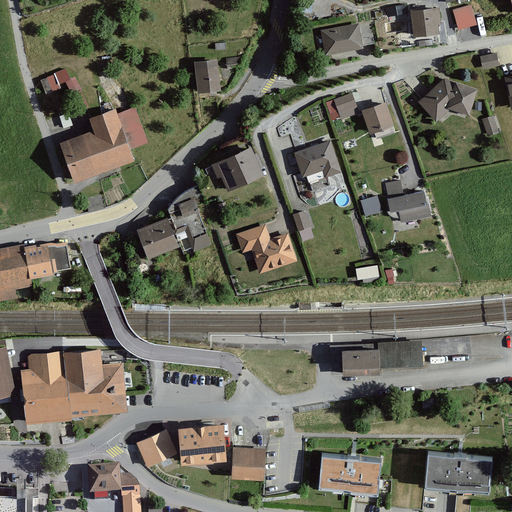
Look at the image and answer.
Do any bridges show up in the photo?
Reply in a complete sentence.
Yes, this view includes a bridge.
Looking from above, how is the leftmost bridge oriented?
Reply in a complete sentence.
The leftmost bridge runs on a diagonal in the image.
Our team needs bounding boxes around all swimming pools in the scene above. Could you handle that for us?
[334,192,350,207]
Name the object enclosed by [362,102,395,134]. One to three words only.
house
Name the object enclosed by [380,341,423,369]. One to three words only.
shed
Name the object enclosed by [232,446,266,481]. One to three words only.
barn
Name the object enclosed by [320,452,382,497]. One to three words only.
building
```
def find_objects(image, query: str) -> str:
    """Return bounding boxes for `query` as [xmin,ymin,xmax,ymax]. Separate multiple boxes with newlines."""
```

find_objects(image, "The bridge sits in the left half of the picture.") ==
[80,243,244,378]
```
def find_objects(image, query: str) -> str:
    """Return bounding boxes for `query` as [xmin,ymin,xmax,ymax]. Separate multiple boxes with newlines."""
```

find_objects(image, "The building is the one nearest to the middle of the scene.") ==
[236,224,298,273]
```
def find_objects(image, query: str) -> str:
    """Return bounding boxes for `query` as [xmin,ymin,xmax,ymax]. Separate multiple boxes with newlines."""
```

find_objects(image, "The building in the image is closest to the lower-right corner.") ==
[424,449,494,496]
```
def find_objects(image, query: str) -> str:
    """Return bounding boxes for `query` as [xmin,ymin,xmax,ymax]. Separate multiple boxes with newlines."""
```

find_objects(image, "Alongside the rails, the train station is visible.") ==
[160,293,512,344]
